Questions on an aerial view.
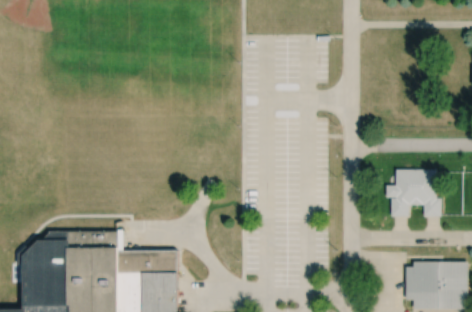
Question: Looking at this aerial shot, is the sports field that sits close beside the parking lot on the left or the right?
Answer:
left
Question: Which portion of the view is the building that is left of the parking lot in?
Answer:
bottom left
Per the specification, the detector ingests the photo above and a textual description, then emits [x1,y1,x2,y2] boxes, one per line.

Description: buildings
[388,168,442,216]
[0,228,178,312]
[406,260,470,310]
